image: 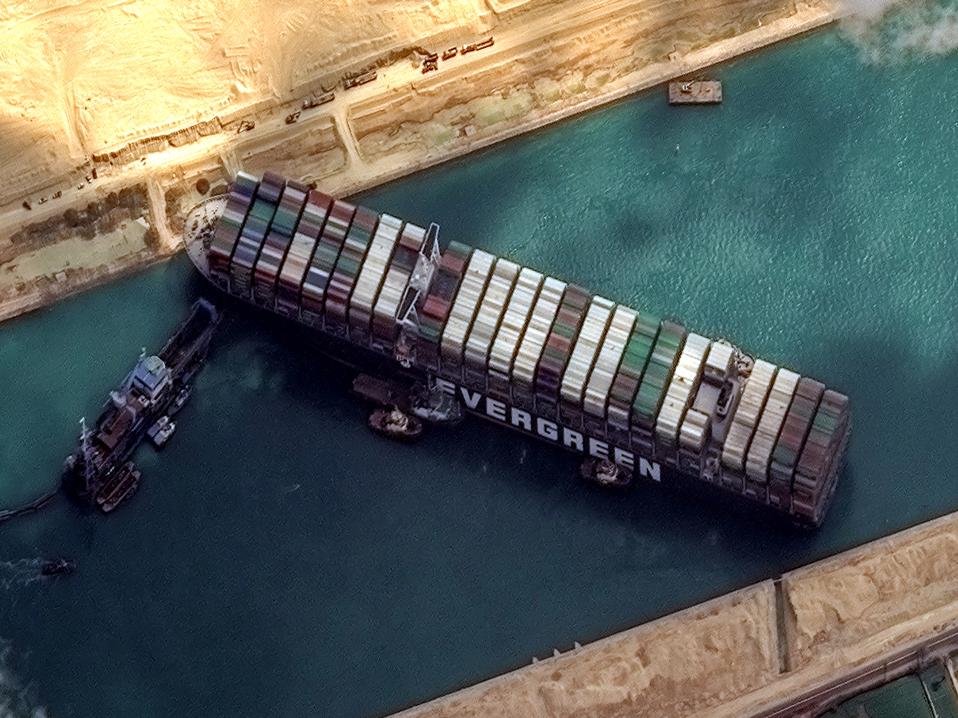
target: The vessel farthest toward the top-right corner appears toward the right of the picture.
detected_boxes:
[669,78,722,106]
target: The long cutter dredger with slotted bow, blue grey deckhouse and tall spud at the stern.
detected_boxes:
[65,296,217,505]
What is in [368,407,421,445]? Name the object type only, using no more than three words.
boat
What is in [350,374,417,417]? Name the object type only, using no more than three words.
ship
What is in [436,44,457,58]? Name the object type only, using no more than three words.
vehicle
